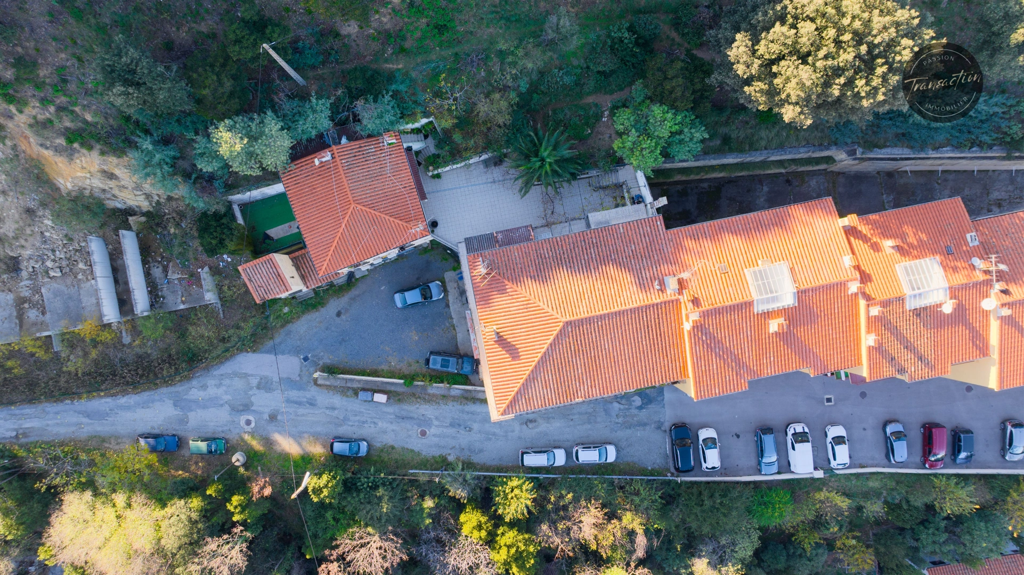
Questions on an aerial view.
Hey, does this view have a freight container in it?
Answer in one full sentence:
No, I can see no freight container in this picture.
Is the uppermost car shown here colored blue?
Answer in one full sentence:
Yes, the uppermost car appears blue.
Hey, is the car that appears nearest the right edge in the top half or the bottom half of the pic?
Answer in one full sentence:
Seen from above, the car that appears nearest the right edge lies in the bottom half of the view.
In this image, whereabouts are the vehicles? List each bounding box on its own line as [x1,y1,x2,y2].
[754,426,780,474]
[187,436,229,458]
[921,422,951,469]
[519,446,565,470]
[949,427,976,465]
[999,418,1024,462]
[670,422,695,474]
[572,442,616,466]
[330,437,370,459]
[882,420,910,464]
[823,423,850,469]
[697,427,722,471]
[786,422,816,477]
[394,282,445,309]
[423,353,476,377]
